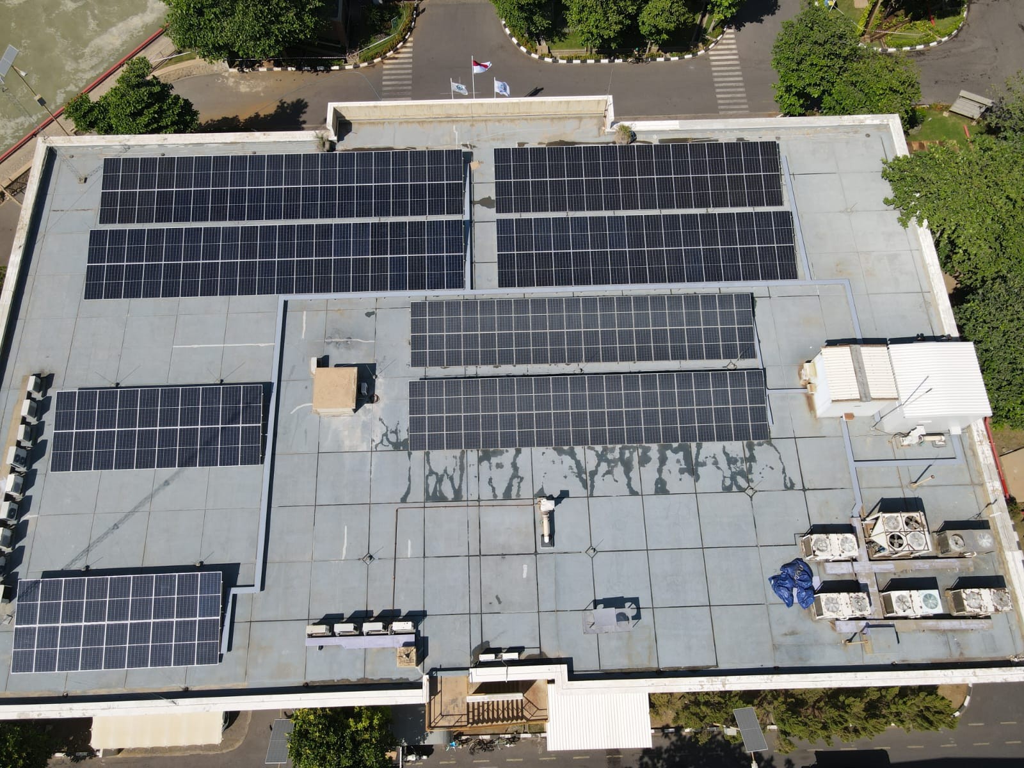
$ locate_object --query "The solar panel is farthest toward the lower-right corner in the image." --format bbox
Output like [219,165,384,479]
[733,706,768,752]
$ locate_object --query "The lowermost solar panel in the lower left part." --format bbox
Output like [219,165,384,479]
[265,719,294,763]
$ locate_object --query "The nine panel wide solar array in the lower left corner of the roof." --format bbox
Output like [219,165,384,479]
[11,572,229,673]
